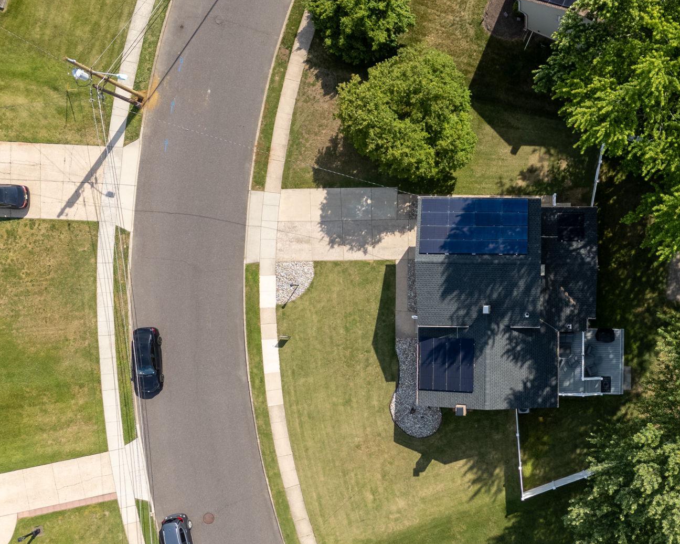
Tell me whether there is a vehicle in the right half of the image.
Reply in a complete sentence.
No, there is no vehicle in the right half of the image.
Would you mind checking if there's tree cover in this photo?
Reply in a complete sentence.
Yes, there is tree cover in the image.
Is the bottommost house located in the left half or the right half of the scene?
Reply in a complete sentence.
You can find the bottommost house on the right side of the picture.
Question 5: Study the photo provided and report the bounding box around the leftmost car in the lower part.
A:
[130,328,167,396]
